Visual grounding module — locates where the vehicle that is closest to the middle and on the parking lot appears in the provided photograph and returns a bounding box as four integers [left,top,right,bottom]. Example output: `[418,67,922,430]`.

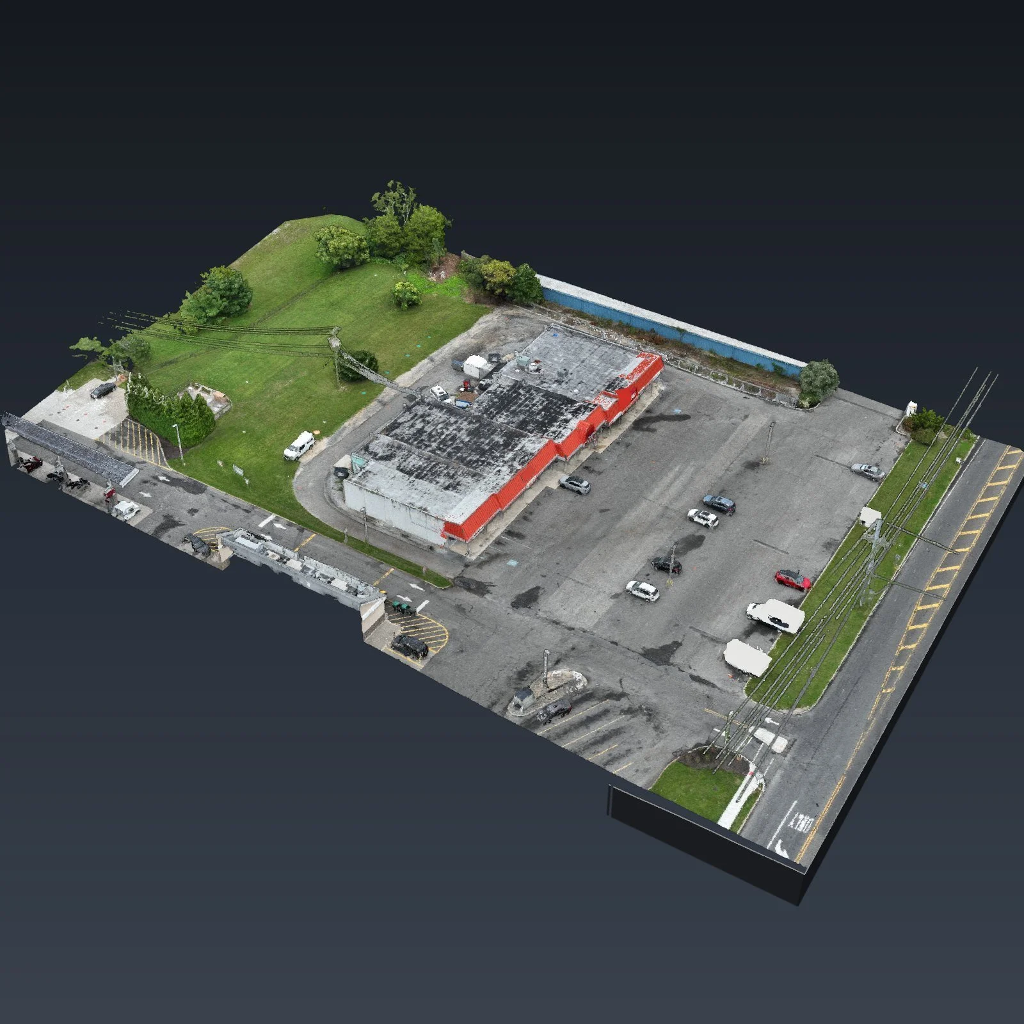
[560,477,590,495]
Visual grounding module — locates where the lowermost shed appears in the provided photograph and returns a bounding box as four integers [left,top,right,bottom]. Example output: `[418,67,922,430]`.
[511,684,536,711]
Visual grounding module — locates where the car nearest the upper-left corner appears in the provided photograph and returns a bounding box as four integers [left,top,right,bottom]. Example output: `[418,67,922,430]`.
[89,380,119,399]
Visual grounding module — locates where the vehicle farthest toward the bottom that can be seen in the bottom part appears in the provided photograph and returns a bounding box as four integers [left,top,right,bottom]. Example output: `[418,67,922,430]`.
[536,697,575,724]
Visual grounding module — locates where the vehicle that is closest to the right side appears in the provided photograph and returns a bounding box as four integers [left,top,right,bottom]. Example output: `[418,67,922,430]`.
[852,465,885,482]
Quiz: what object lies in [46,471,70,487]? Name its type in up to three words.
car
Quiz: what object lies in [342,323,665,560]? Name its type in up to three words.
building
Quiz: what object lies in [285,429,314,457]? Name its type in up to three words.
truck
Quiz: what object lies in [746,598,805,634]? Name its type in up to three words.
vehicle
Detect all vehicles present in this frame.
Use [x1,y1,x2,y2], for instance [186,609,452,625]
[774,568,811,592]
[560,477,590,495]
[703,495,737,515]
[625,581,659,603]
[461,370,476,389]
[15,455,45,471]
[390,635,429,657]
[46,471,70,487]
[109,500,144,520]
[852,465,885,482]
[431,384,454,405]
[89,380,119,399]
[536,697,575,724]
[285,429,314,457]
[721,638,772,675]
[746,598,805,634]
[687,509,719,529]
[181,536,211,557]
[64,478,93,494]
